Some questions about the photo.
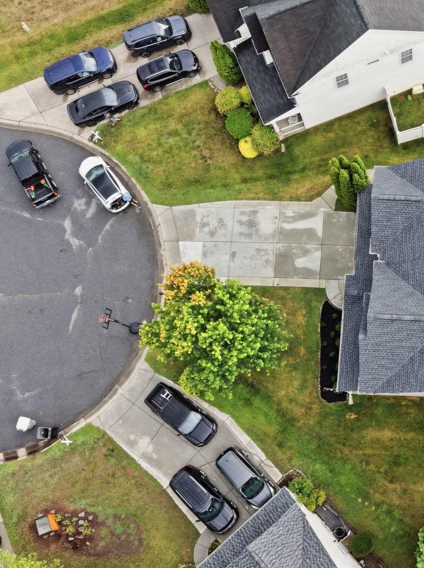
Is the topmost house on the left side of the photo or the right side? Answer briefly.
right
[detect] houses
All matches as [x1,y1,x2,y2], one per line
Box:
[198,485,360,568]
[336,157,424,398]
[206,0,424,140]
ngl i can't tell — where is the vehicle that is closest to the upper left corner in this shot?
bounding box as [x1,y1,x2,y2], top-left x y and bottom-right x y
[46,49,117,95]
